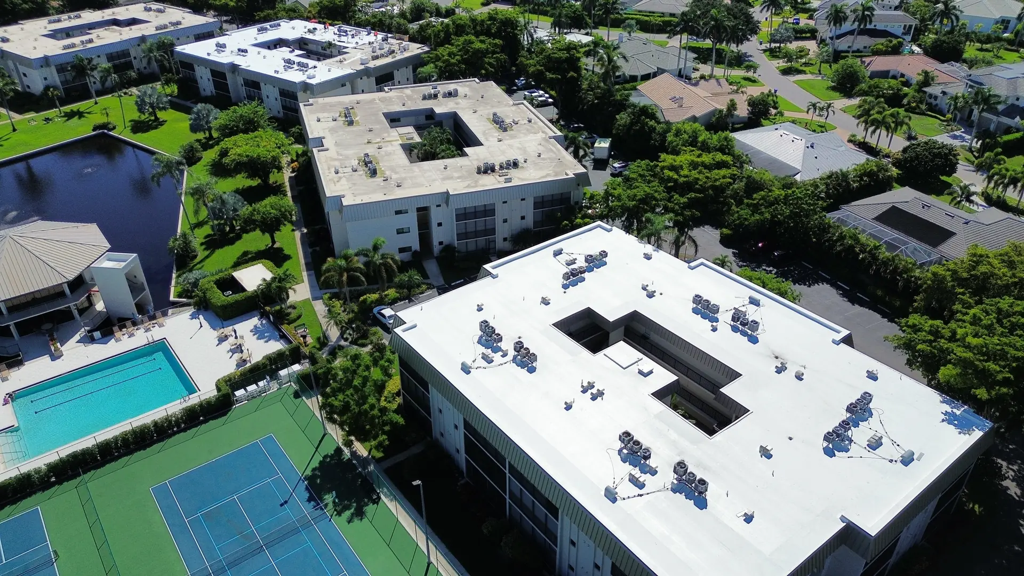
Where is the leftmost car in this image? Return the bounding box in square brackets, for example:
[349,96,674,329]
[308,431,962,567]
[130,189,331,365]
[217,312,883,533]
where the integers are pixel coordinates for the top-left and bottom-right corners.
[368,303,398,327]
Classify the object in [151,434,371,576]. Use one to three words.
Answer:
tennis court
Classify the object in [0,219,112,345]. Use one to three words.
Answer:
building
